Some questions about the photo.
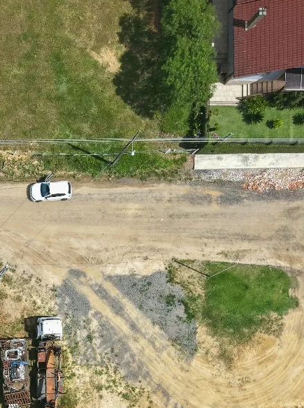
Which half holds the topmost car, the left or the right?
left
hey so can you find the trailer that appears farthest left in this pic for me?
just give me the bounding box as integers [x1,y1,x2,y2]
[3,336,34,406]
